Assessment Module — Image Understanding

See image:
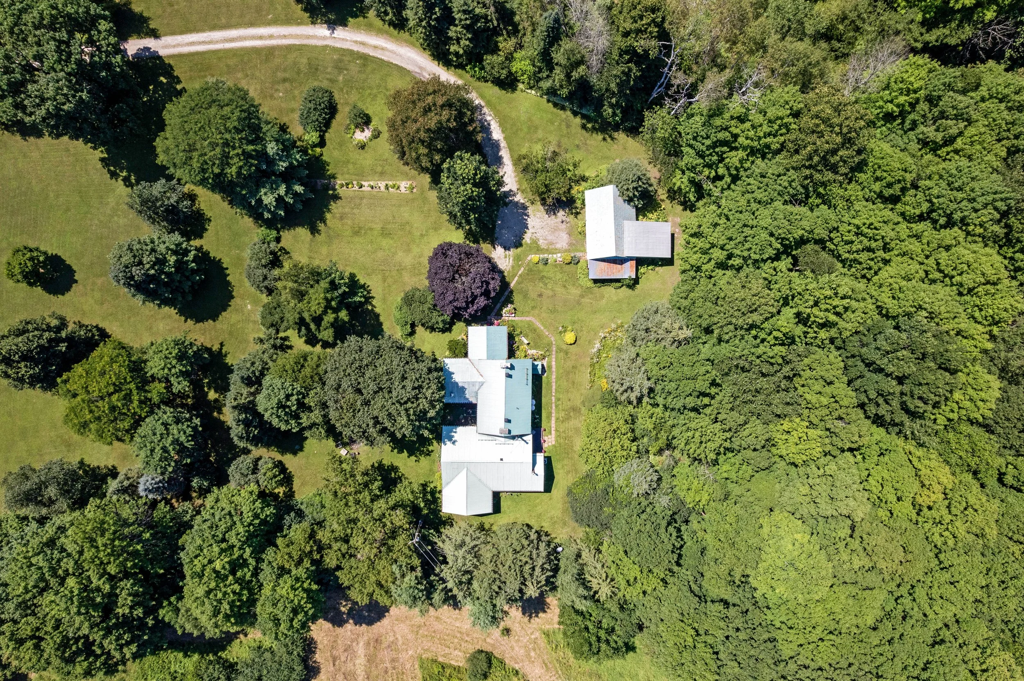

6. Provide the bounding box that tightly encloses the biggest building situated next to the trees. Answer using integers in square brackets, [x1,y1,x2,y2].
[441,326,547,516]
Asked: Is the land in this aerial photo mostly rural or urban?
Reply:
rural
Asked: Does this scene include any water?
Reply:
No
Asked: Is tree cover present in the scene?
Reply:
Yes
